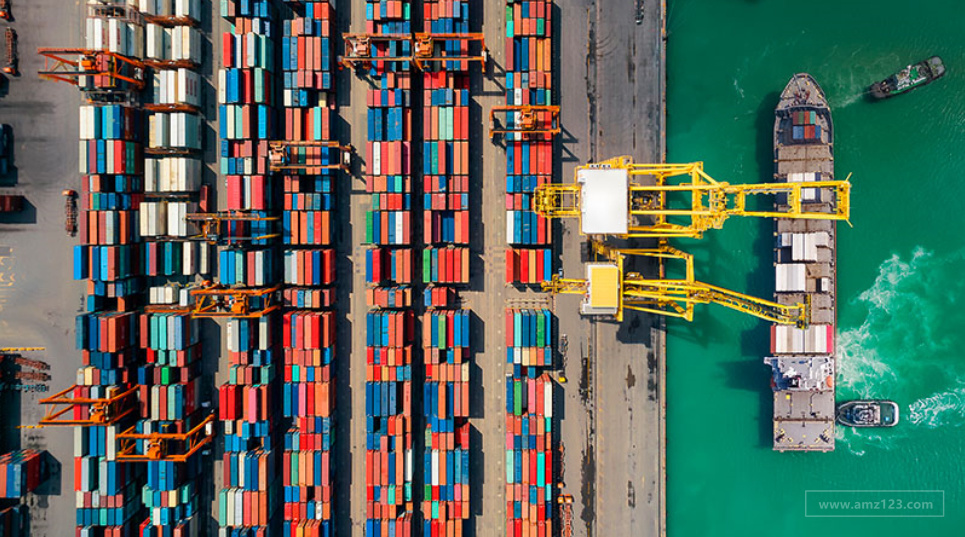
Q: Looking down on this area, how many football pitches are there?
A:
none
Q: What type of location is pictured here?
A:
port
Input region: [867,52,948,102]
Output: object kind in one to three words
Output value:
boat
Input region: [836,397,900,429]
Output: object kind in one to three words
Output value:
boat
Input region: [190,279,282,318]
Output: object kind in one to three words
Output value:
container crane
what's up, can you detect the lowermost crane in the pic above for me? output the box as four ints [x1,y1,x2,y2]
[116,411,212,464]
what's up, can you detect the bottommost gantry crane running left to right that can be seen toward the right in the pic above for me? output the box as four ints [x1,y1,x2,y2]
[535,237,822,345]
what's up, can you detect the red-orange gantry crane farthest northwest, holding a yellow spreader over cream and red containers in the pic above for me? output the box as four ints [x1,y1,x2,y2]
[38,49,143,89]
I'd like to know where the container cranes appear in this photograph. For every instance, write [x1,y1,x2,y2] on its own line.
[38,49,143,89]
[38,380,142,429]
[535,153,860,240]
[190,279,282,318]
[186,209,279,244]
[489,105,560,142]
[413,33,487,75]
[263,138,353,175]
[342,33,420,75]
[535,237,822,345]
